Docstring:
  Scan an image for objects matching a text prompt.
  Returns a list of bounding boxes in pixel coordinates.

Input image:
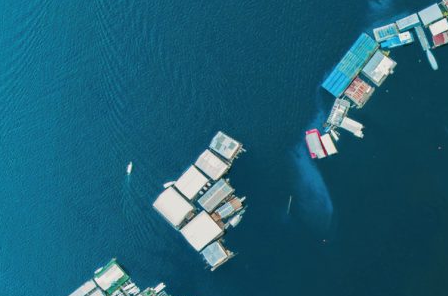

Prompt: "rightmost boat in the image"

[425,48,437,70]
